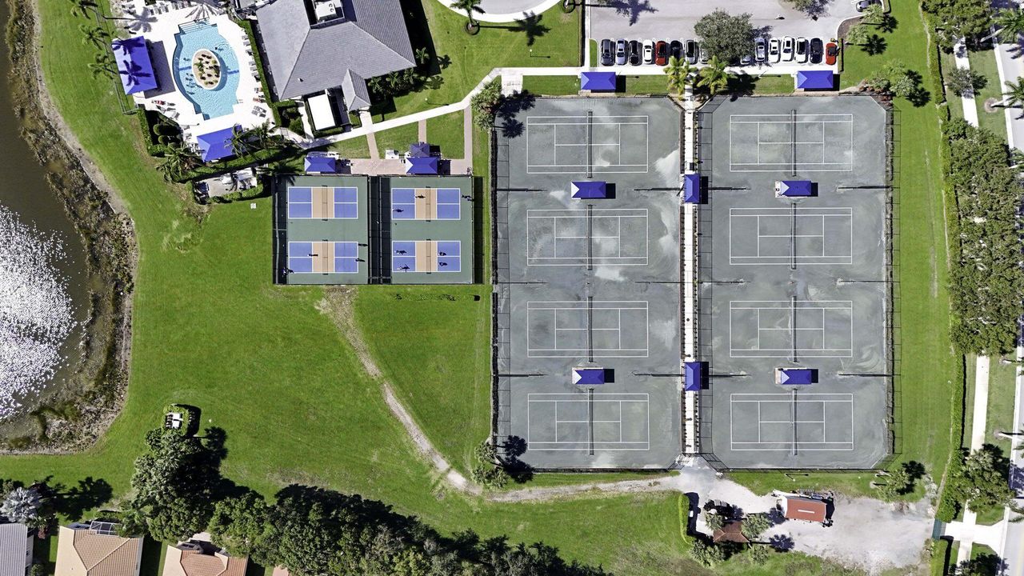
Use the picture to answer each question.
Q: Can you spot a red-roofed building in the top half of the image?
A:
No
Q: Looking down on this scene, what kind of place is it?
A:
sports ground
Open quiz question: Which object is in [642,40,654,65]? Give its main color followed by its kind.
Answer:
white vehicle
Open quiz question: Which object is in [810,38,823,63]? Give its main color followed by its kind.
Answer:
black vehicle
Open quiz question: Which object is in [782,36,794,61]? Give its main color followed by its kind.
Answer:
white vehicle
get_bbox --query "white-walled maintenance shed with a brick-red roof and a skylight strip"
[780,495,827,523]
